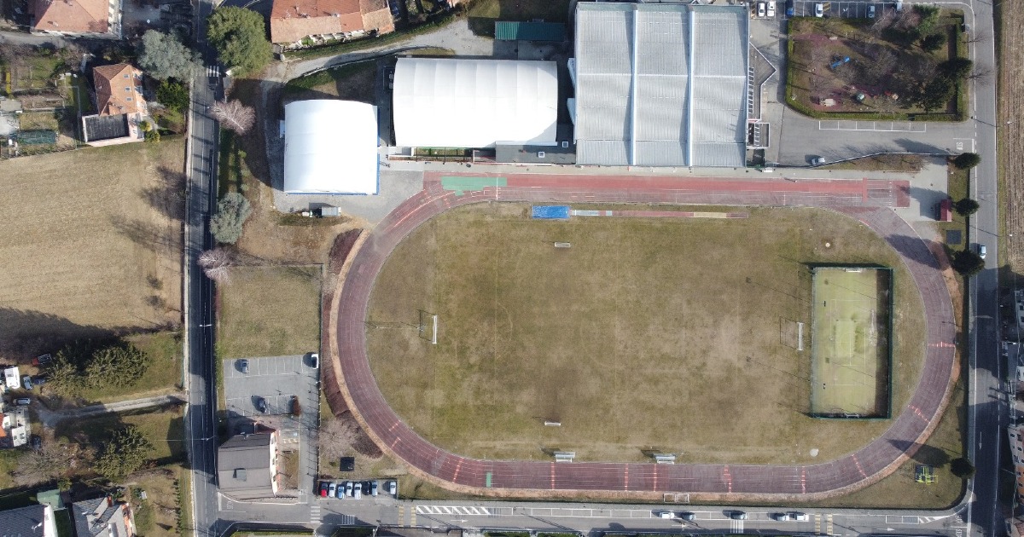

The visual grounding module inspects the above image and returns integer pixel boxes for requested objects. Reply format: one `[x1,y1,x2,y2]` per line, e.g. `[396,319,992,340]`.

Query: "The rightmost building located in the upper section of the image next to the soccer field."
[567,1,750,170]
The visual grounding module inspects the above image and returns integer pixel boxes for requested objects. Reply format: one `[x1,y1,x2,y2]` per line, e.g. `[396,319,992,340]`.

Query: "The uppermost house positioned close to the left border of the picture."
[33,0,121,39]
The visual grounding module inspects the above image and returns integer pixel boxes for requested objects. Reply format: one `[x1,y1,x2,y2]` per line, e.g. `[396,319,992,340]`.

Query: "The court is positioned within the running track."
[813,270,889,417]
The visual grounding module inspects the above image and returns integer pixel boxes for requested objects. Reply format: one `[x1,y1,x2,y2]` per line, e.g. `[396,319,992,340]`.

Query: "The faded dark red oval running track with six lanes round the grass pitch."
[337,172,955,494]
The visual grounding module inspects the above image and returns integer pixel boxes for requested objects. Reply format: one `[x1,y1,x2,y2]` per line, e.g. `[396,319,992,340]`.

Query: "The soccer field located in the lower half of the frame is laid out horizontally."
[366,201,927,466]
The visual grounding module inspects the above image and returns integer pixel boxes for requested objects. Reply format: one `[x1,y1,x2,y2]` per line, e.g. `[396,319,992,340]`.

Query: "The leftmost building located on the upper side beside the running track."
[285,99,380,194]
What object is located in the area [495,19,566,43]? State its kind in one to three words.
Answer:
shed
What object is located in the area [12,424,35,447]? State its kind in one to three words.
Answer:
shed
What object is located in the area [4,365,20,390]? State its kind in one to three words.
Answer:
camper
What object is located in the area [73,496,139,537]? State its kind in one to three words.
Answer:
house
